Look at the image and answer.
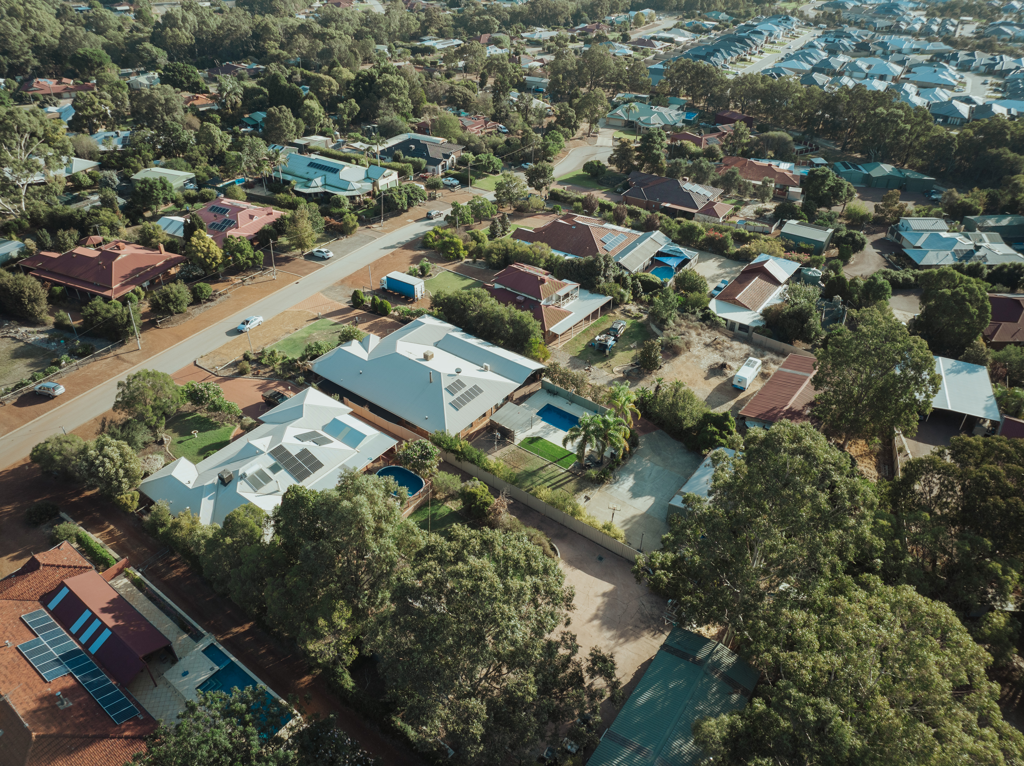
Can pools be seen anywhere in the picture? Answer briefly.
Yes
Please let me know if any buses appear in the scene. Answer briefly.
Yes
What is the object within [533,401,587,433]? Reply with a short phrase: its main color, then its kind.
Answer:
blue swimming pool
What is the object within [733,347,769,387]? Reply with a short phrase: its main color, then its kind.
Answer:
white bus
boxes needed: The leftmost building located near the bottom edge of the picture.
[0,540,179,764]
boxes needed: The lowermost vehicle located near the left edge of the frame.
[29,379,65,397]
